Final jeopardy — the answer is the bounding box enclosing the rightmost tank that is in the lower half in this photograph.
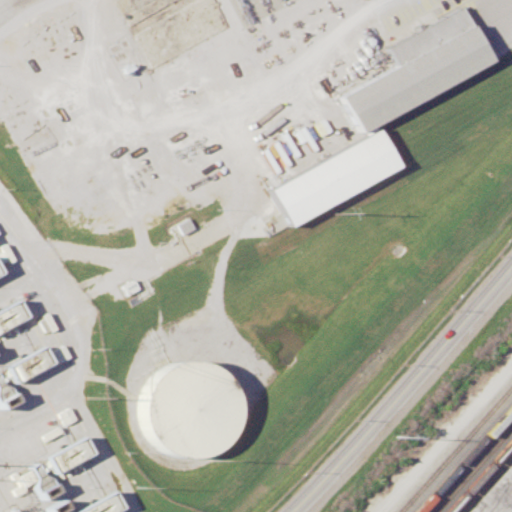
[128,362,246,460]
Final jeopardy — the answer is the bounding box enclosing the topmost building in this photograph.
[339,8,500,131]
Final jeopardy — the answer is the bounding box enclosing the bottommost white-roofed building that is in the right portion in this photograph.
[268,130,406,228]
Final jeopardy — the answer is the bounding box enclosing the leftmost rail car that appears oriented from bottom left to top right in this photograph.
[414,492,440,512]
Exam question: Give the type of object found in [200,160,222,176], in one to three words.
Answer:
vehicle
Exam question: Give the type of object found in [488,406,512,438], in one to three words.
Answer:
rail car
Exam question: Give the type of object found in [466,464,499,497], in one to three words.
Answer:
rail car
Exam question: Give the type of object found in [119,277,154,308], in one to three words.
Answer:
shed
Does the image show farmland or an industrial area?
industrial area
